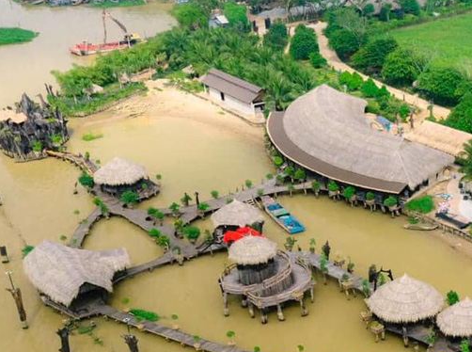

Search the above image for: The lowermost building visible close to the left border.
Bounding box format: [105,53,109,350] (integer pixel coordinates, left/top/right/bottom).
[22,248,132,322]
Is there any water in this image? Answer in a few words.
Yes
